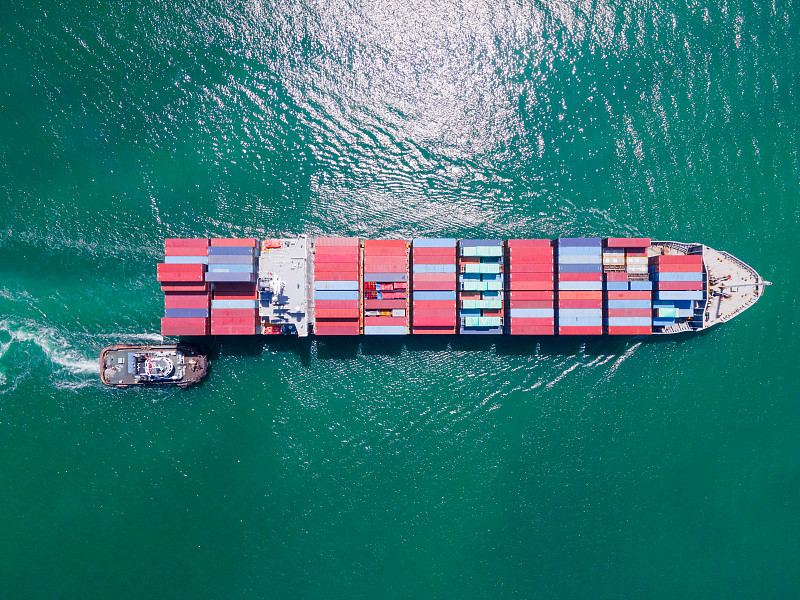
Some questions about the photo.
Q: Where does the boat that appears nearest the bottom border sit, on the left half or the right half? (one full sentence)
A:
The boat that appears nearest the bottom border sits on the left side.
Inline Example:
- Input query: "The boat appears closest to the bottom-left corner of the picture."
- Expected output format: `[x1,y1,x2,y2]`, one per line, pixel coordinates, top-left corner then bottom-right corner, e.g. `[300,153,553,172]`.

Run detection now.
[98,345,210,389]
